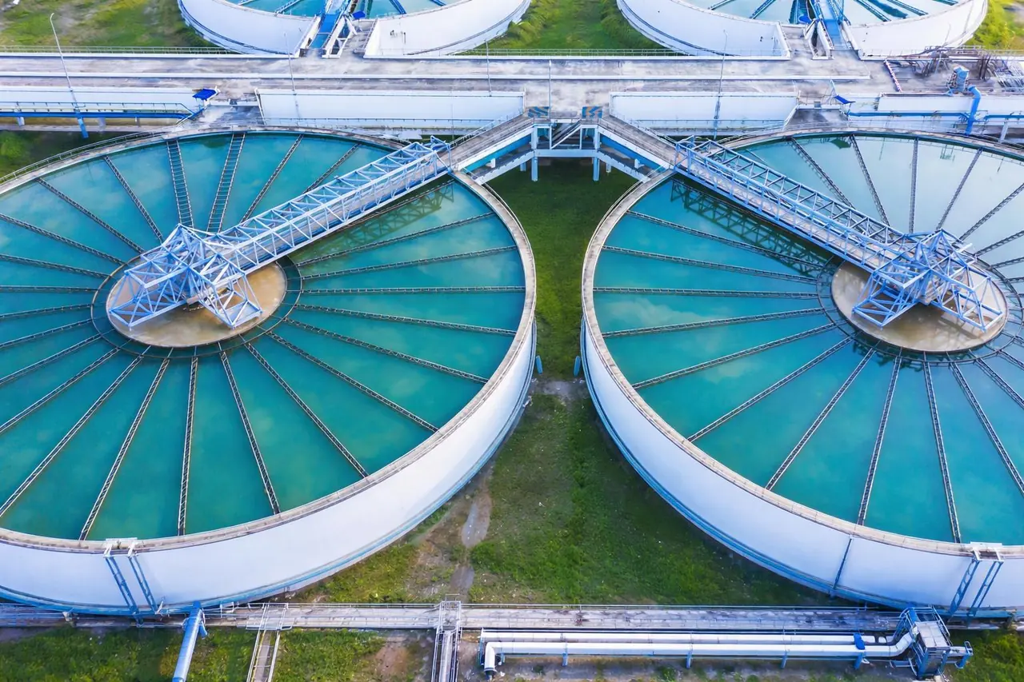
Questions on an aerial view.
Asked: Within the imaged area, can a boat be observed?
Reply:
No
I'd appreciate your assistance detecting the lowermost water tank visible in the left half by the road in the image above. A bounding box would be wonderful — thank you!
[0,117,538,610]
